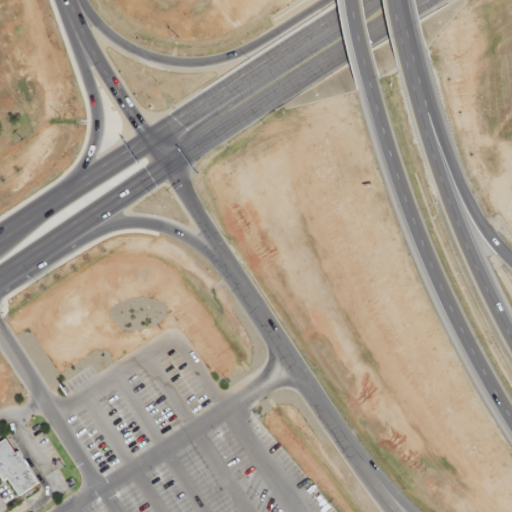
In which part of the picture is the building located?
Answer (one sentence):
You can find the building in the bottom left area of the picture.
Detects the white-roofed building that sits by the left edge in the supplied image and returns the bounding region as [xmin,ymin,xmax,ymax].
[0,438,40,496]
